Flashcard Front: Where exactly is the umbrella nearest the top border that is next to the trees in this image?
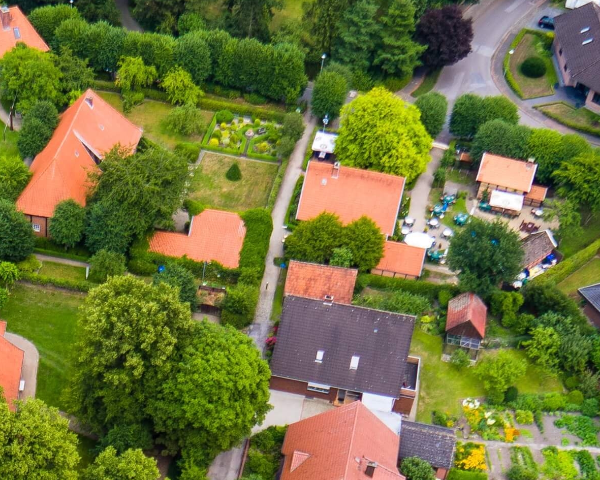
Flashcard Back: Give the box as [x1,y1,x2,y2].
[314,135,335,158]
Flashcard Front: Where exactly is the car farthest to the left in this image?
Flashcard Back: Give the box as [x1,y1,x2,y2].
[537,13,556,27]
